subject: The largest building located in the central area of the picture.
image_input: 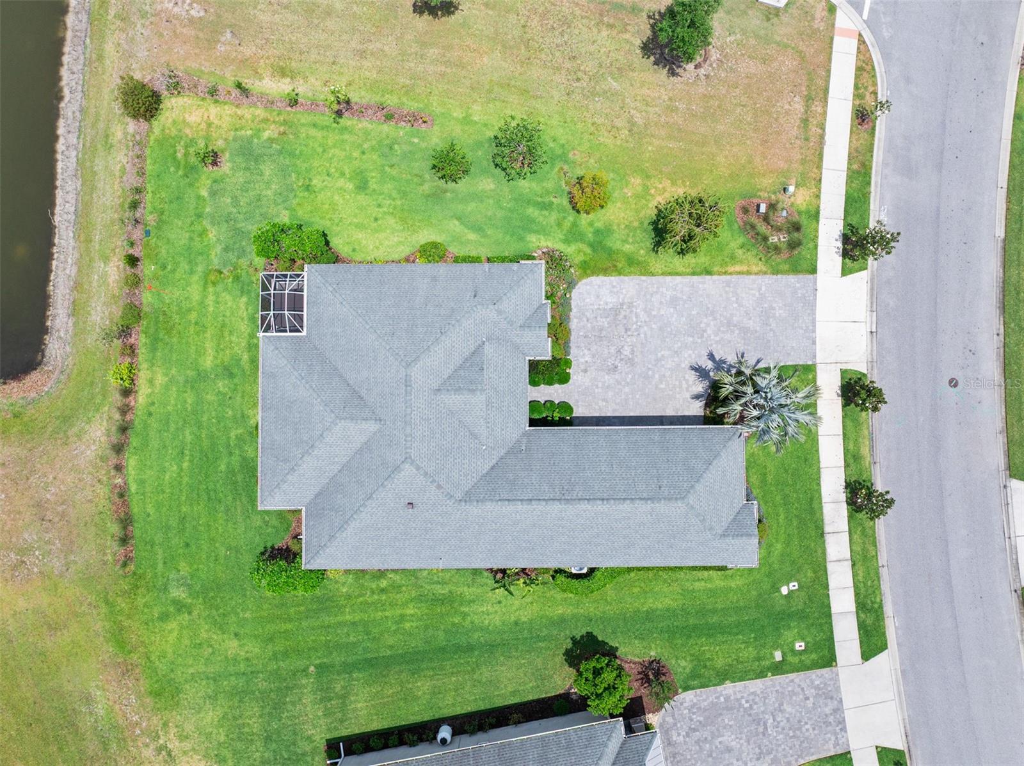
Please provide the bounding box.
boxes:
[257,261,760,570]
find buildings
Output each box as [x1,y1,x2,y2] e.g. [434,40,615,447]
[257,261,760,570]
[327,707,667,766]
